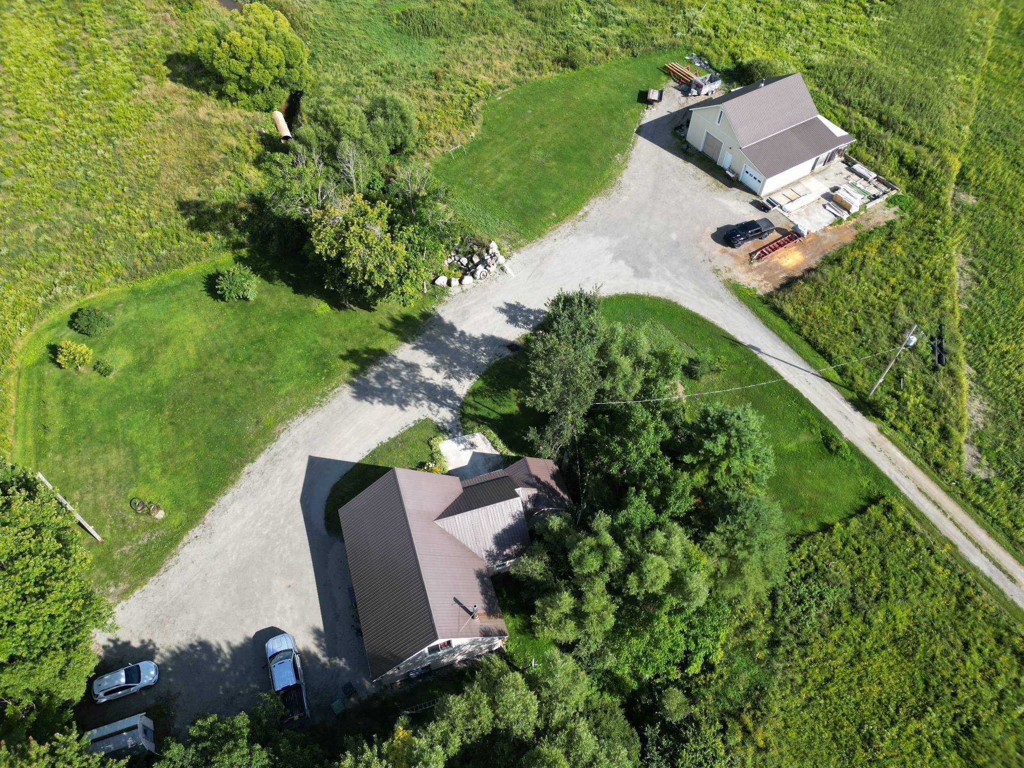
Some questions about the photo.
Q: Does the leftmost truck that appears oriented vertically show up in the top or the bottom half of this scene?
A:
bottom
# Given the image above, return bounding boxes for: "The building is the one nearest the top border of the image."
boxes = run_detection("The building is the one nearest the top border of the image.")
[686,72,853,194]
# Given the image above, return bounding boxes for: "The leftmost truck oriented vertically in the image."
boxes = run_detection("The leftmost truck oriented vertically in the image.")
[263,626,313,728]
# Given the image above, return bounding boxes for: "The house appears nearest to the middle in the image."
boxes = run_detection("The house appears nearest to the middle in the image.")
[340,456,574,686]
